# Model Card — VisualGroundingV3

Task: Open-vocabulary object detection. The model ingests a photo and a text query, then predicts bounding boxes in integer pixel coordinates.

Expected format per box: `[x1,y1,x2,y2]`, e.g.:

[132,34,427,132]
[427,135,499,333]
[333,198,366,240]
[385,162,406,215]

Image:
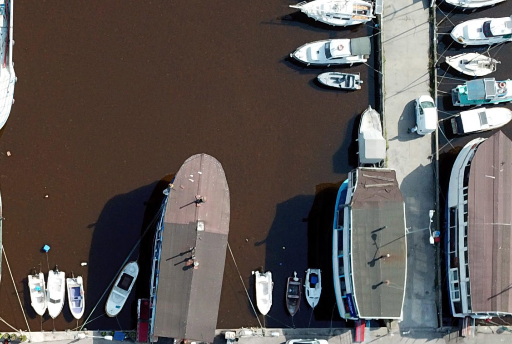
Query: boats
[30,269,47,314]
[436,8,512,60]
[251,267,275,320]
[436,0,505,17]
[330,167,416,333]
[437,39,507,83]
[47,266,65,332]
[286,274,301,316]
[289,0,380,26]
[302,269,321,324]
[439,129,512,332]
[318,72,381,99]
[67,272,84,318]
[438,76,512,109]
[288,33,381,74]
[353,100,386,168]
[439,106,512,134]
[73,251,141,330]
[82,153,263,343]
